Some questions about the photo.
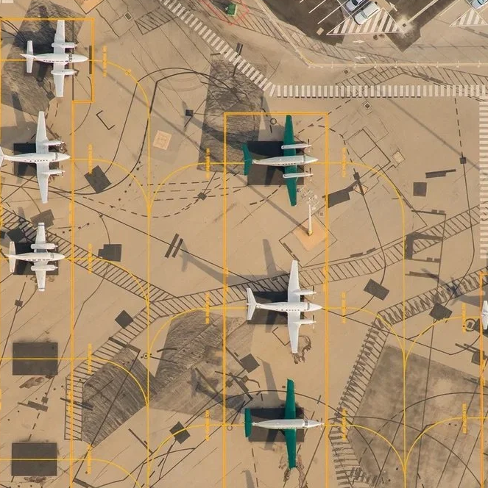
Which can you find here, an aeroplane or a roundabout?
aeroplane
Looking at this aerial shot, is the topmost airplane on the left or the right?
left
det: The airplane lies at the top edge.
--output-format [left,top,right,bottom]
[19,22,88,94]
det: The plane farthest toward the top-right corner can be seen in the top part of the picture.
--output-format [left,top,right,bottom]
[242,117,318,204]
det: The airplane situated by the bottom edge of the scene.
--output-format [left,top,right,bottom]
[242,378,322,469]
